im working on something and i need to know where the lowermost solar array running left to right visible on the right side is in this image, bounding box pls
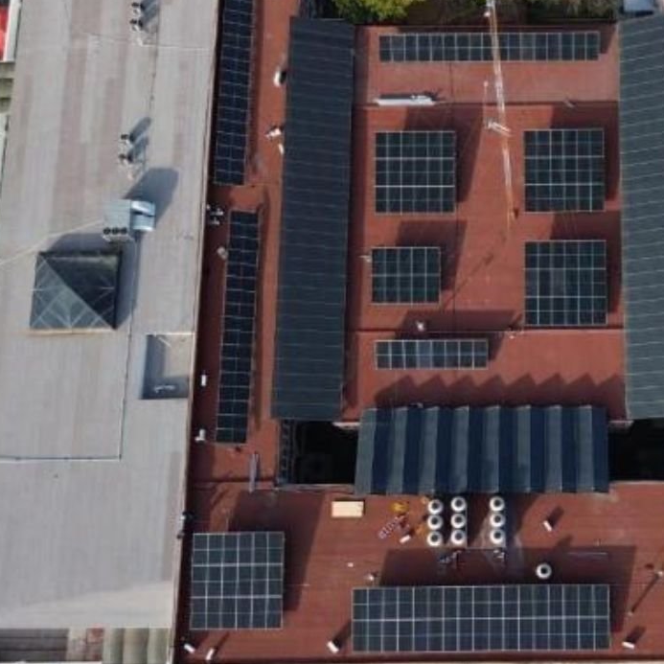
[352,580,609,653]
